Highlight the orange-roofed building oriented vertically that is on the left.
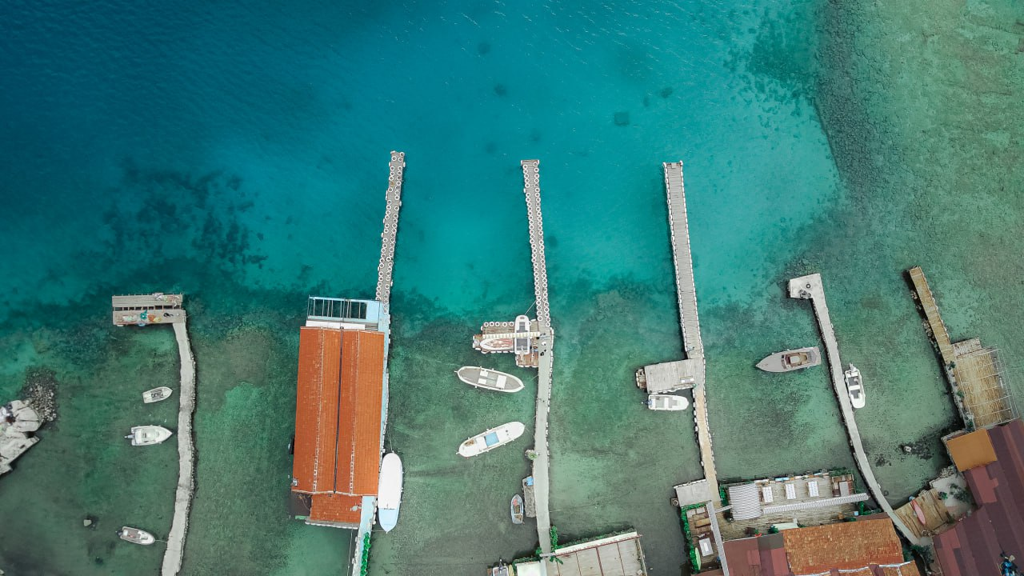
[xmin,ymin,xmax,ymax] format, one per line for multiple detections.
[291,327,386,528]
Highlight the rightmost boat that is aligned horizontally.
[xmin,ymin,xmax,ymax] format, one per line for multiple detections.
[755,344,823,371]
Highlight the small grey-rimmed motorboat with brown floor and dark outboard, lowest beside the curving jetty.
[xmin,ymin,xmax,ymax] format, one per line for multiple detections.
[116,524,156,545]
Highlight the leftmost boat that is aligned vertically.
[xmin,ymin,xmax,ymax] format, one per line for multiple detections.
[376,453,405,533]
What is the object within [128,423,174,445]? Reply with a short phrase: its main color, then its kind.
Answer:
white boat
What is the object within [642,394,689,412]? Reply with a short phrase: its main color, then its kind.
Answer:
white boat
